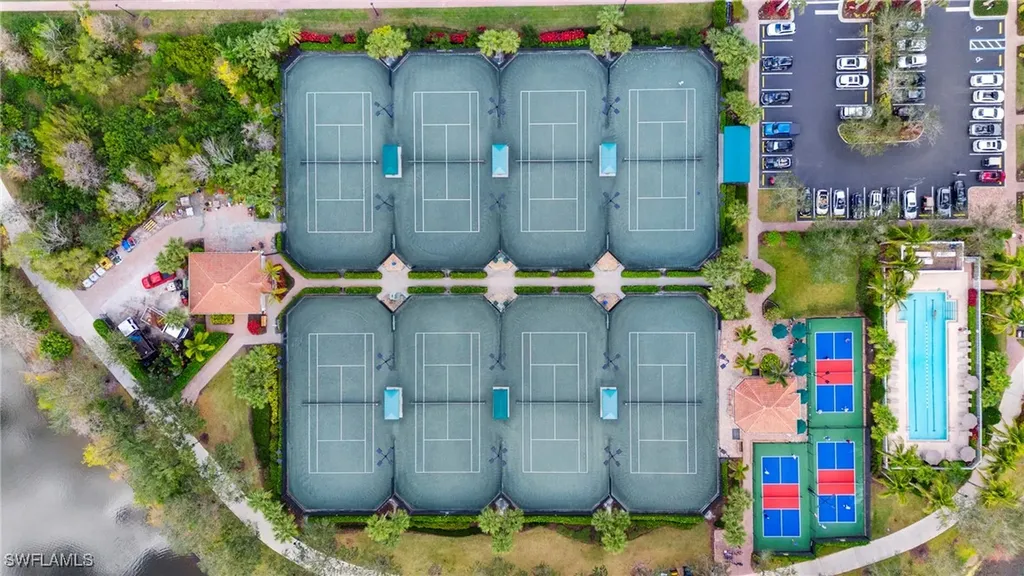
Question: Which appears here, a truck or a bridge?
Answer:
truck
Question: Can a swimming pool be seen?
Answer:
Yes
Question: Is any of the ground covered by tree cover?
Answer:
Yes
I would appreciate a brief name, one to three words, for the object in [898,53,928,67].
car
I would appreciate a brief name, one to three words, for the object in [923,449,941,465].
umbrella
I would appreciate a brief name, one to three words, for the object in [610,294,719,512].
tennis court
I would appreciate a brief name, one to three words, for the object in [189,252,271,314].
building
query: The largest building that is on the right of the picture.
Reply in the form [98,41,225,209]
[730,376,801,433]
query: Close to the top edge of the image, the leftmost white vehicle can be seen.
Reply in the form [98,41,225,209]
[767,21,796,35]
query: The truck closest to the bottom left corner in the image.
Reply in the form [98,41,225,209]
[116,319,156,363]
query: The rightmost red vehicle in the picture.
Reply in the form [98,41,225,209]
[977,169,1006,183]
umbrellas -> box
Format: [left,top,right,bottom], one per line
[772,323,788,339]
[799,389,809,404]
[923,449,941,465]
[960,376,978,390]
[791,322,807,338]
[791,360,807,375]
[796,419,808,434]
[959,412,978,429]
[791,341,807,356]
[957,446,975,462]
